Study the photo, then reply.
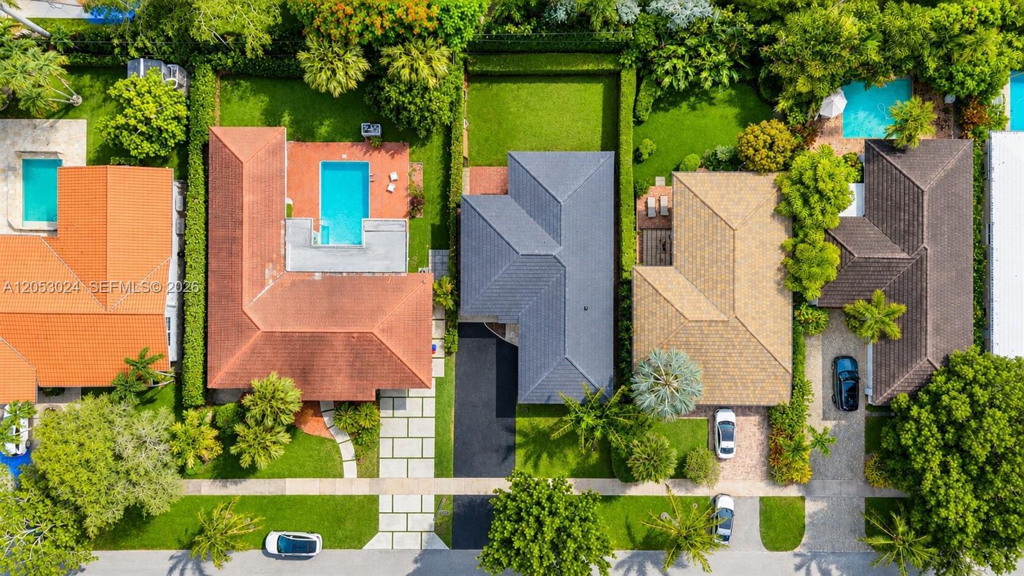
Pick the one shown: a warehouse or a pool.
pool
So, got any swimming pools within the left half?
Yes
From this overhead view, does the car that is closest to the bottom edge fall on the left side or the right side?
left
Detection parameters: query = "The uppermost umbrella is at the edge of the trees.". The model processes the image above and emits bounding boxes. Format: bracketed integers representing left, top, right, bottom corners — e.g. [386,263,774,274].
[818,91,844,117]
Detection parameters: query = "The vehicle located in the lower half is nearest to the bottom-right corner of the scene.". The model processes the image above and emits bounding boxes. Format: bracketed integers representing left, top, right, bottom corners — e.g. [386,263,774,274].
[830,356,862,411]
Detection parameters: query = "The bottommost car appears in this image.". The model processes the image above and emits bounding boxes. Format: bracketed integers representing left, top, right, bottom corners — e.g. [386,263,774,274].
[268,529,321,559]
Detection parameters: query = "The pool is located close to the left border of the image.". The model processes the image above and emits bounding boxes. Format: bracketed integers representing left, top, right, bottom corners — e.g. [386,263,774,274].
[12,151,68,230]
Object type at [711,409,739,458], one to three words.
car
